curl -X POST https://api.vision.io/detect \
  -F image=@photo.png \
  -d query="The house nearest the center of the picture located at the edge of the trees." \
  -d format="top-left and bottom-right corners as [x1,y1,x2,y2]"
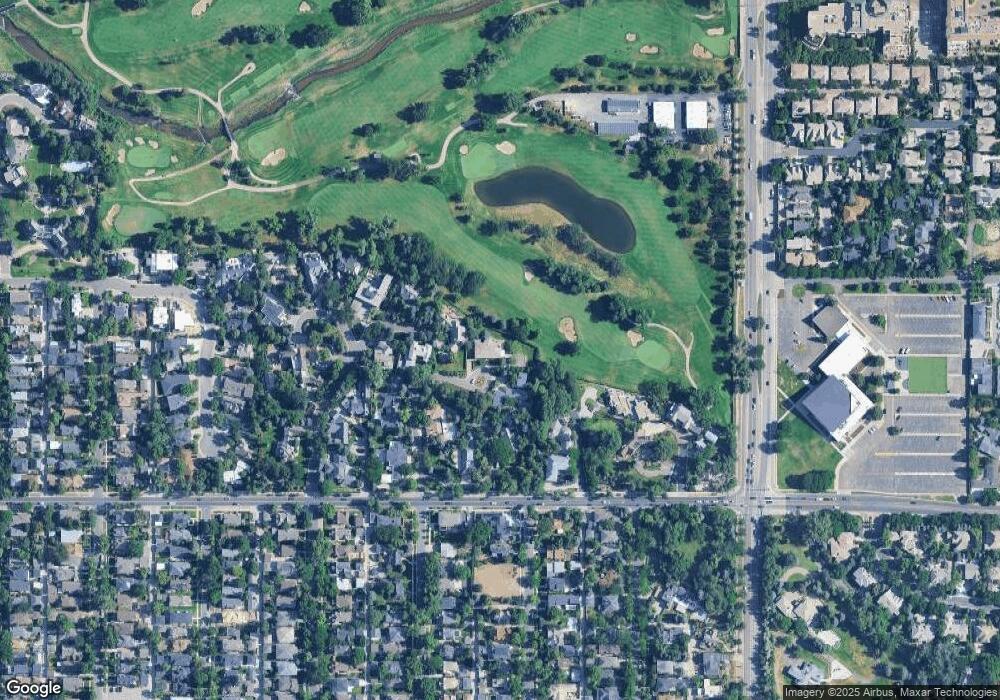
[474,340,512,357]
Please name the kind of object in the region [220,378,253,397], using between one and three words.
house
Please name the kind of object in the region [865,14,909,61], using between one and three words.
building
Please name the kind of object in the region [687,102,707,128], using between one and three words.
shed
